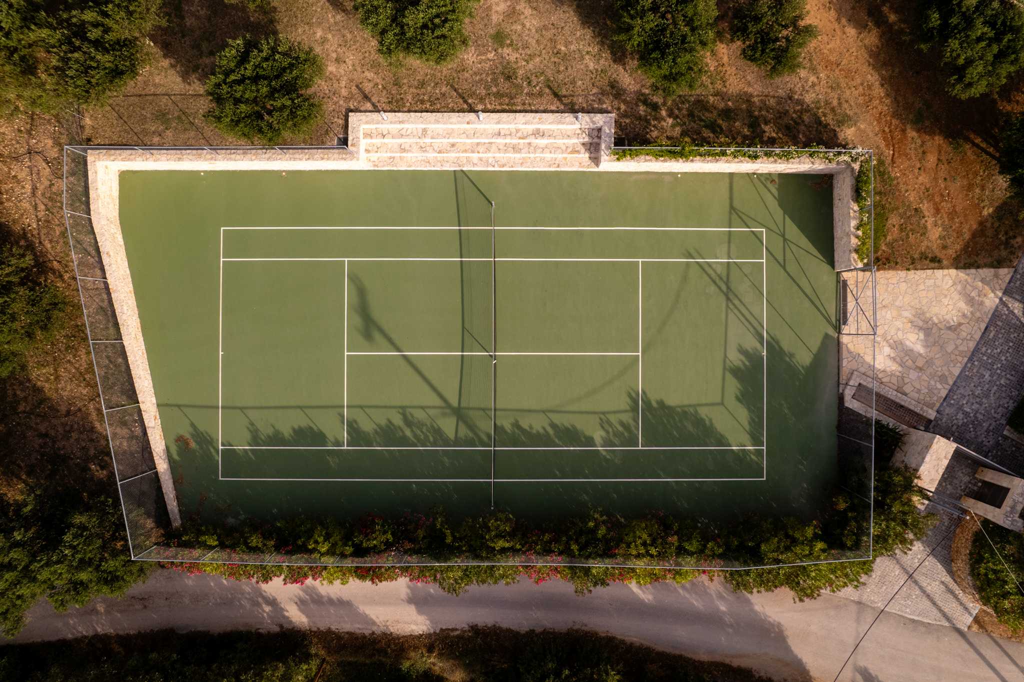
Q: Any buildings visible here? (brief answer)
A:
No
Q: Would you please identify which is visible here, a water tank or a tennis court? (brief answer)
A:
tennis court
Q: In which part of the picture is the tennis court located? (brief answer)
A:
center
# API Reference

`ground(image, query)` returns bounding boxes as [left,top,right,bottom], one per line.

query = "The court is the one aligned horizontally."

[118,170,839,531]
